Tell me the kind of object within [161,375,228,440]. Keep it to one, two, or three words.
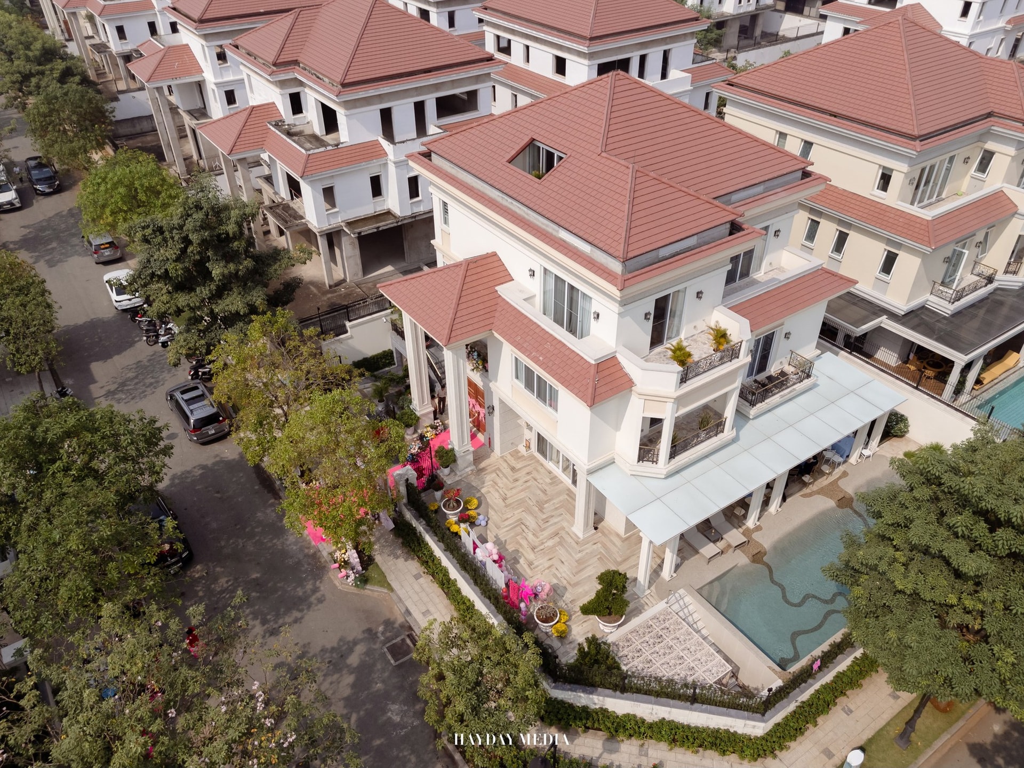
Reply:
car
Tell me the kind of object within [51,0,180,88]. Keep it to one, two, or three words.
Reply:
house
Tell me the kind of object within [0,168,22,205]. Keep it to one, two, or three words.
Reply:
car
